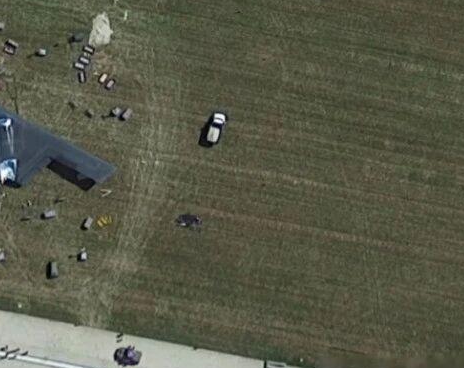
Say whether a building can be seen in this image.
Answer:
No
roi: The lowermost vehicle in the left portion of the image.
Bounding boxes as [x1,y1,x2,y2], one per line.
[114,347,141,365]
